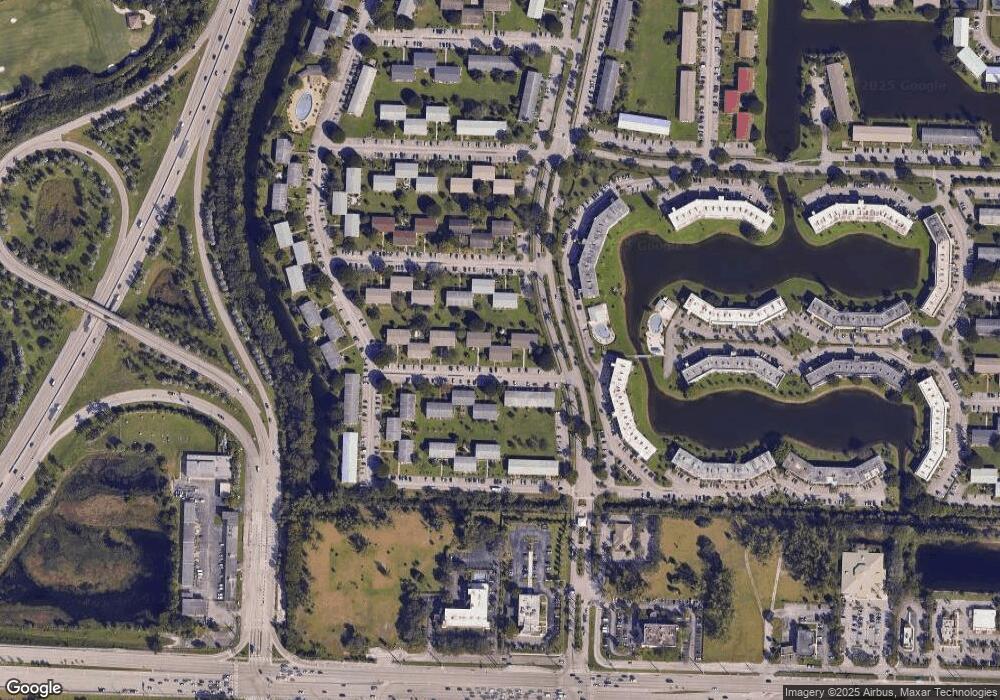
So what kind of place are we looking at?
residential area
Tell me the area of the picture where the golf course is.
top left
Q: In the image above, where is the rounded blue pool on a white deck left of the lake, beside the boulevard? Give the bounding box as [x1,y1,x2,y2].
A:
[589,320,615,345]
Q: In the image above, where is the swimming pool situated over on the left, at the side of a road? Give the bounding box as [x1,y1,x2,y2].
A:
[287,73,327,133]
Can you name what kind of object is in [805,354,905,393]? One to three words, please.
building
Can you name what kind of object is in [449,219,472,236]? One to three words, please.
house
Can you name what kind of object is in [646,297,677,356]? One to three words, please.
swimming pool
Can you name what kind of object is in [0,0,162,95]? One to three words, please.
golf course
